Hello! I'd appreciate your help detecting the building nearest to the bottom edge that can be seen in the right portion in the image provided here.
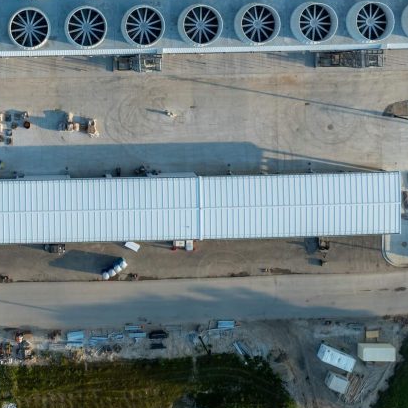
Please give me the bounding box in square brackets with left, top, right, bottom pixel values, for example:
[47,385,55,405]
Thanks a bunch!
[320,366,350,393]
